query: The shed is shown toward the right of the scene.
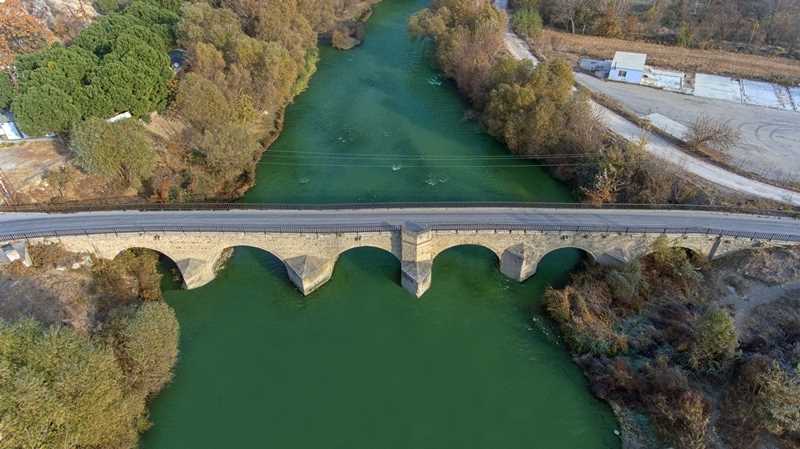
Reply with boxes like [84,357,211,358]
[607,52,651,84]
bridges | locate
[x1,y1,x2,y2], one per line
[0,201,800,296]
